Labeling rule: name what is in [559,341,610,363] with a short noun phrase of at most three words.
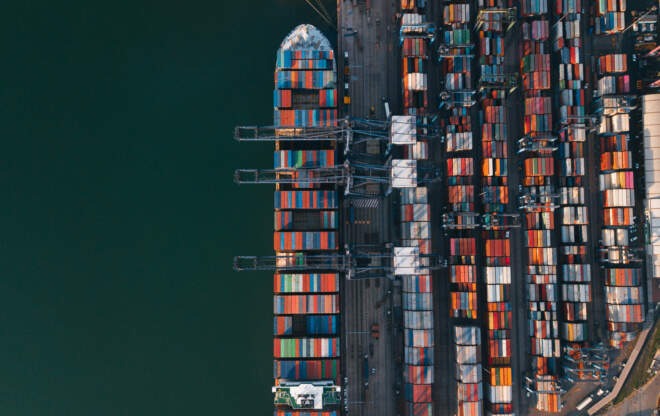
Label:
container crane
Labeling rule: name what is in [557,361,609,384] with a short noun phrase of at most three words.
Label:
container crane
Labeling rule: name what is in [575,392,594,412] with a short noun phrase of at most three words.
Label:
vehicle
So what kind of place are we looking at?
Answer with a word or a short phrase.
port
